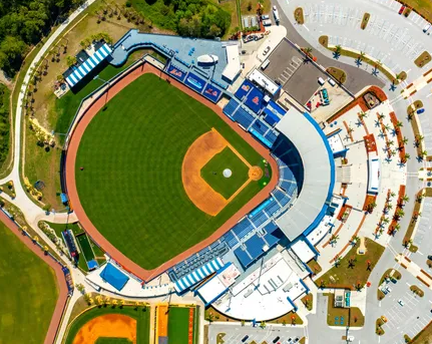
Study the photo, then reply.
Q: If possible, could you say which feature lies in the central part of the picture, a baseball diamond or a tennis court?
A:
baseball diamond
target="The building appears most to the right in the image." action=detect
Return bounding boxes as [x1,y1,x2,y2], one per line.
[366,158,379,194]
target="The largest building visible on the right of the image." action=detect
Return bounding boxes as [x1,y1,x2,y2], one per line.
[211,248,313,321]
